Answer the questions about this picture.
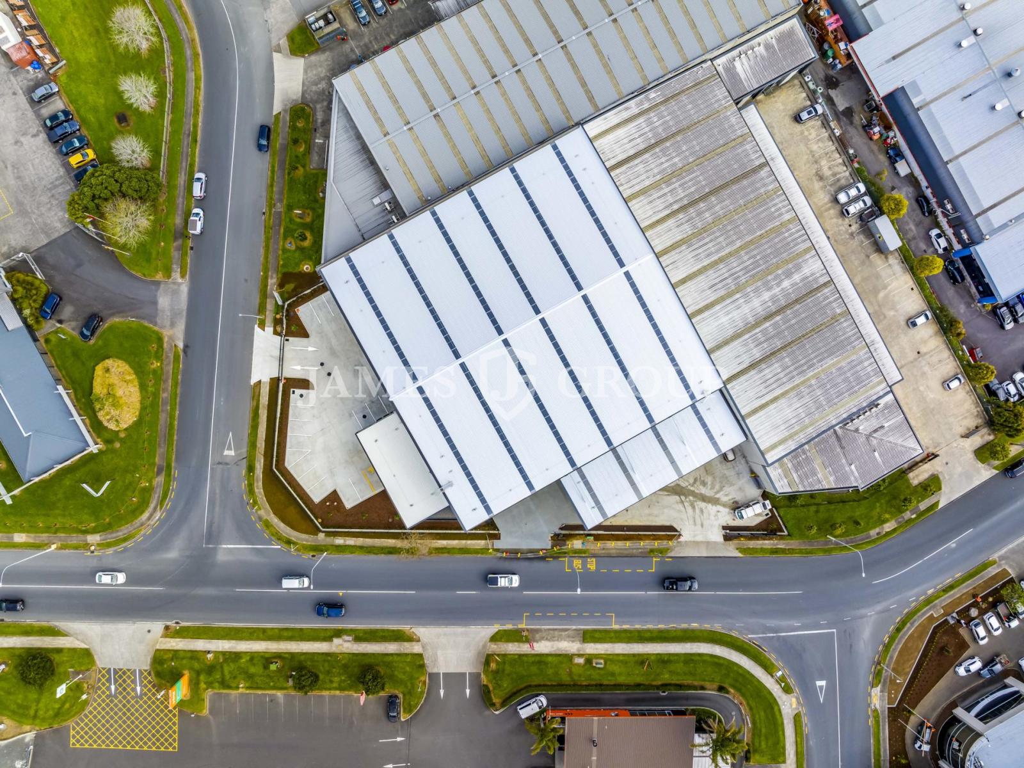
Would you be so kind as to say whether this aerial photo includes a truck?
Yes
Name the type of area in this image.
industrial area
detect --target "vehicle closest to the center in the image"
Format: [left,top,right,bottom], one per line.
[487,573,519,588]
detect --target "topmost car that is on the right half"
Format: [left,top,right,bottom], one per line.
[794,104,824,124]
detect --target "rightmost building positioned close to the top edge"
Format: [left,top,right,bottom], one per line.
[832,0,1024,249]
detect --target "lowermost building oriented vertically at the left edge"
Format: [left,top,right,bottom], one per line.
[0,268,100,482]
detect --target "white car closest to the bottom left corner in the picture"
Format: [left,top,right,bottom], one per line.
[95,571,127,585]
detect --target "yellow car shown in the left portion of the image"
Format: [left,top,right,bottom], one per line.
[68,149,98,168]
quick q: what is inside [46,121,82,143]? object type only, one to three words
truck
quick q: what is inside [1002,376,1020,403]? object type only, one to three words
car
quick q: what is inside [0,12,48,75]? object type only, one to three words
building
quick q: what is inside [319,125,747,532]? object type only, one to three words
warehouse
